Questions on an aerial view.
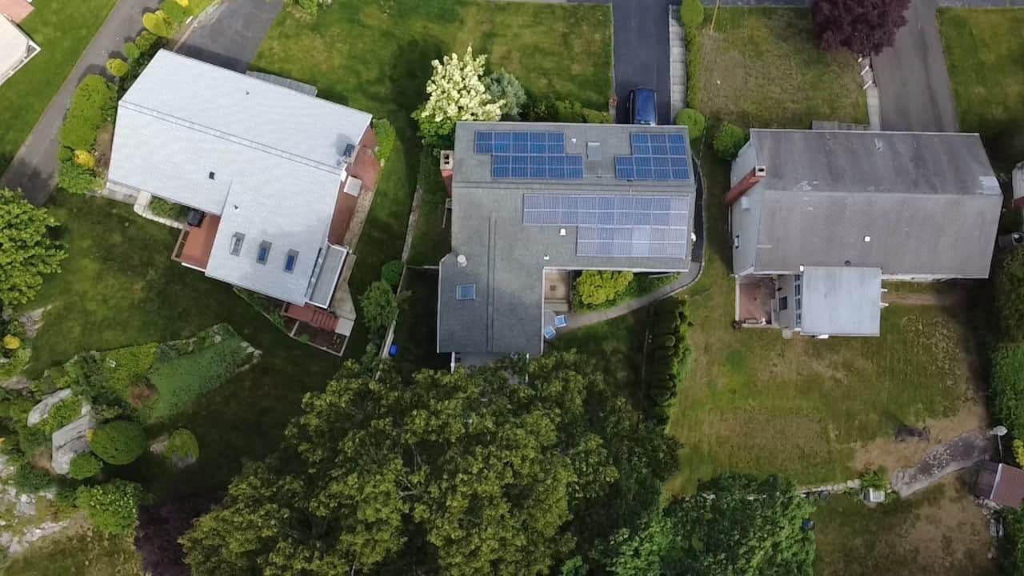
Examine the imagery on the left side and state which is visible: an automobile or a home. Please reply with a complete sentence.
The one visible on the left side is a home.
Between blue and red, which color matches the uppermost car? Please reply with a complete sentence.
From above, the uppermost car appears blue.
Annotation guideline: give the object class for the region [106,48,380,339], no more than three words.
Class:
house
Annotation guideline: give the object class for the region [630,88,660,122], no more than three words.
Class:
car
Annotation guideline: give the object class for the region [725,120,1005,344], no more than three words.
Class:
house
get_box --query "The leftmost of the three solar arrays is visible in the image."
[474,130,584,178]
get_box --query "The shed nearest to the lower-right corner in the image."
[961,455,1024,514]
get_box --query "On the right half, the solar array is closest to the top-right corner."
[614,130,690,178]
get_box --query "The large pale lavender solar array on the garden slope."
[523,193,690,256]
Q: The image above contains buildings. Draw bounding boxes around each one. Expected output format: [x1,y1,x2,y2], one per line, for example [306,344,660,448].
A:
[106,48,380,339]
[0,0,49,96]
[436,122,697,386]
[725,120,1005,344]
[961,455,1024,514]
